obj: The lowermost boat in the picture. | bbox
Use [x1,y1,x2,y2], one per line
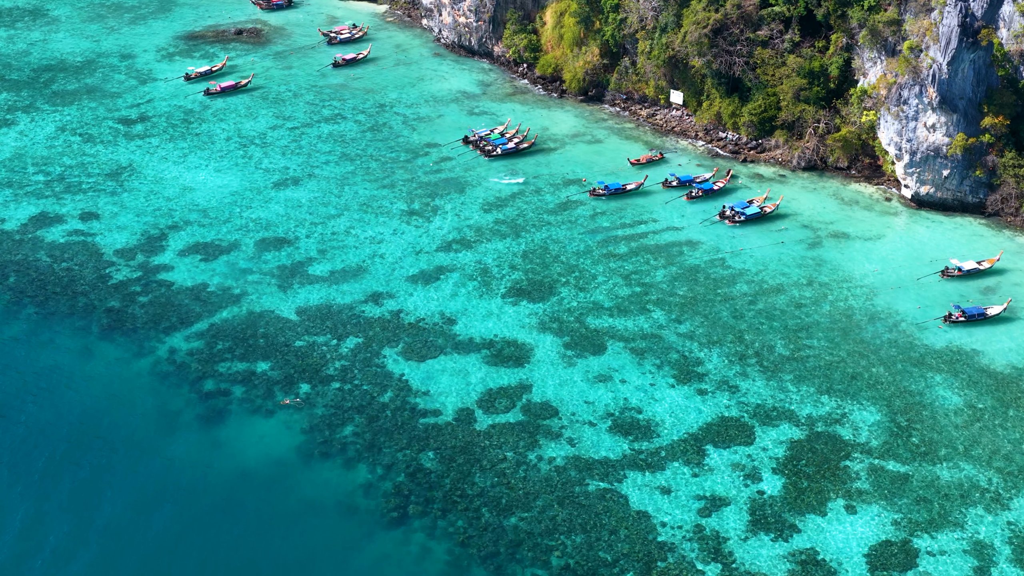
[914,299,1011,327]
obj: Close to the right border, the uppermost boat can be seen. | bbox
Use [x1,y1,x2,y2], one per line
[913,250,1003,283]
